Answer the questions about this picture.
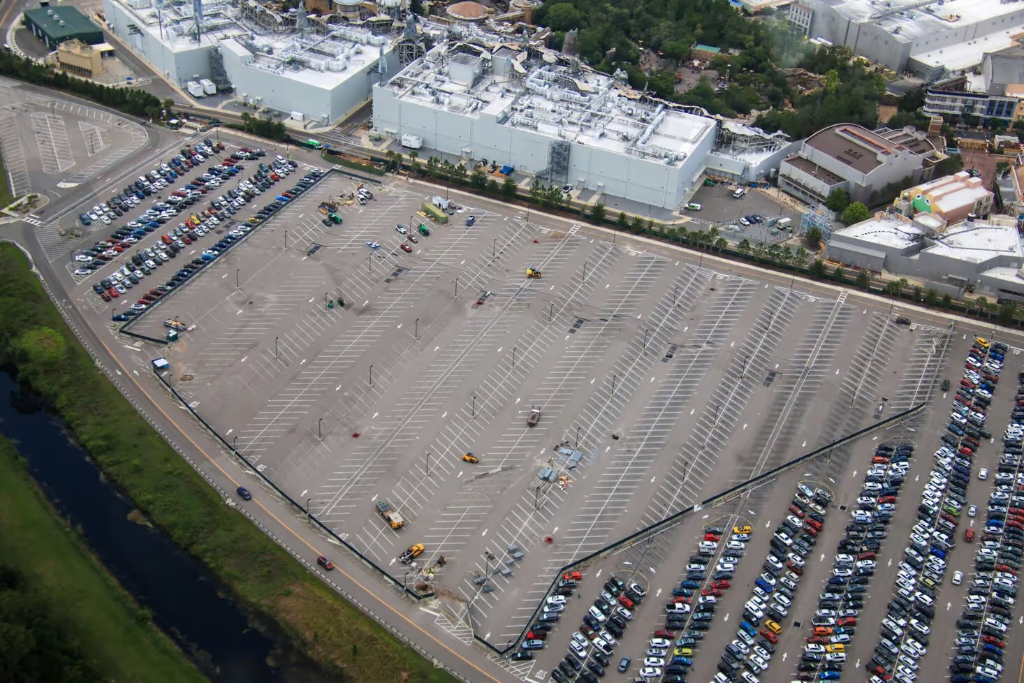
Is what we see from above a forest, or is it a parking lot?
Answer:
parking lot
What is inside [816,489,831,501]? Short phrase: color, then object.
gray vehicle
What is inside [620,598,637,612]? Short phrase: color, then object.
red car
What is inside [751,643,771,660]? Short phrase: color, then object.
white car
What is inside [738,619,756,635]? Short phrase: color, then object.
blue car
